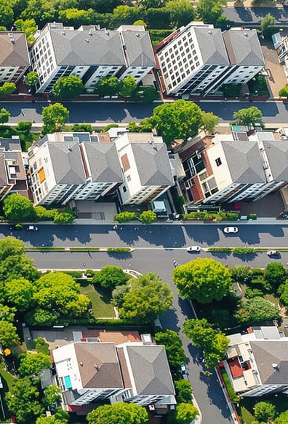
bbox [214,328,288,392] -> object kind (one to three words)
house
